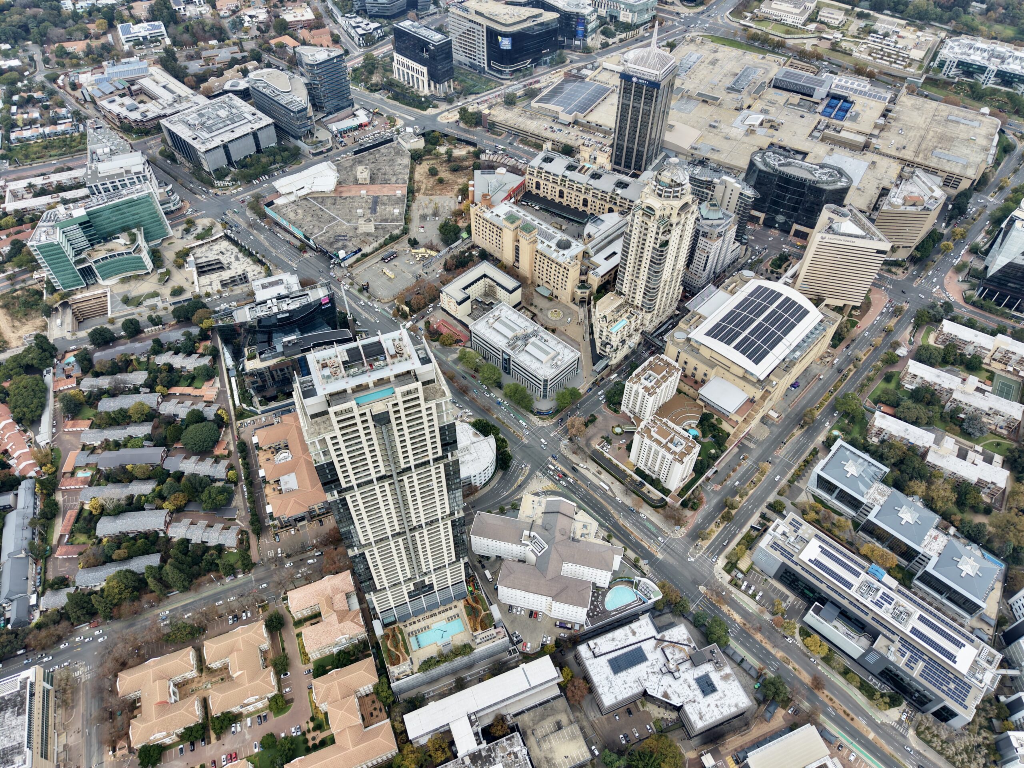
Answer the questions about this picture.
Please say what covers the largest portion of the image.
buildings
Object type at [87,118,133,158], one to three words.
building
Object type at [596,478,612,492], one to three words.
vehicle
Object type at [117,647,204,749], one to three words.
house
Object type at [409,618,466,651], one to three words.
swimming pool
